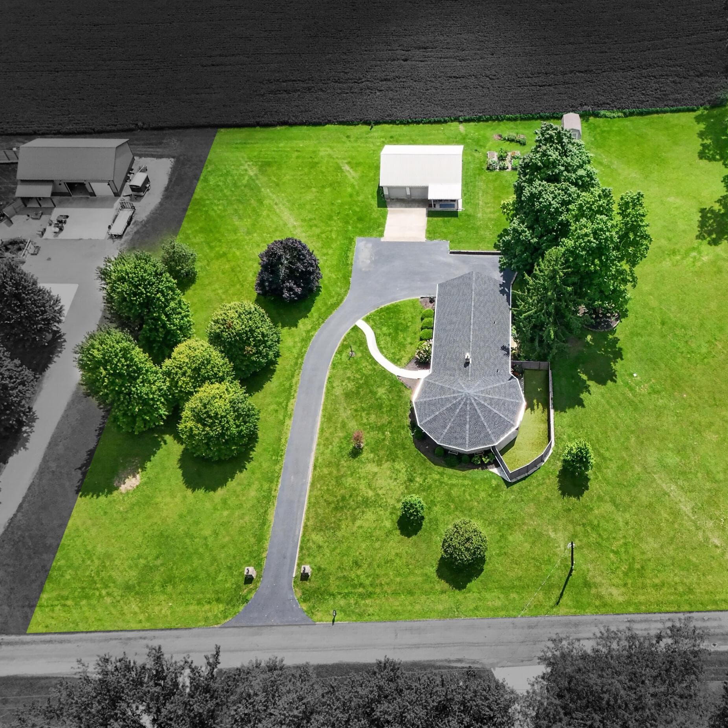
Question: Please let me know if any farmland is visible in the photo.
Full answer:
Yes, farmland can be seen from above here.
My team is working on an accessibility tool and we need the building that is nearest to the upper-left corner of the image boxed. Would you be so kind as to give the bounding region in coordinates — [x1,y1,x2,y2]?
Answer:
[15,139,136,207]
